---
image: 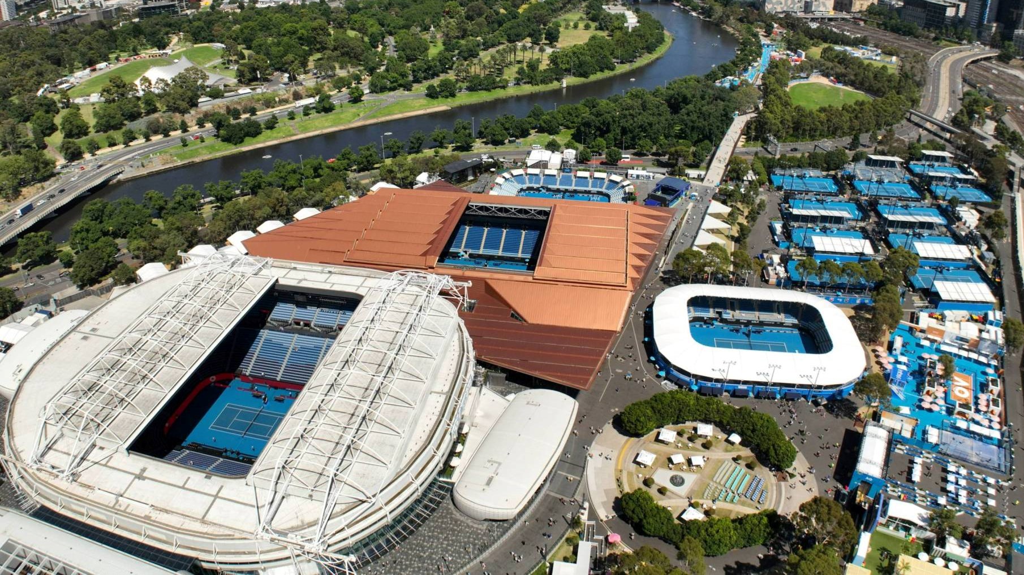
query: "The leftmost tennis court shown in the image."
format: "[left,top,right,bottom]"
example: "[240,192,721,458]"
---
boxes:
[167,382,308,459]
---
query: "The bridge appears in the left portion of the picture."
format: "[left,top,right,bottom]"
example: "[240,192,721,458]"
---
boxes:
[0,154,149,229]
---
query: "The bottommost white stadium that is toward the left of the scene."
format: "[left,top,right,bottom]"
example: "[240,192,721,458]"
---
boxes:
[0,249,481,575]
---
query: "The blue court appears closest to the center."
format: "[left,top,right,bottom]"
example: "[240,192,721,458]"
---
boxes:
[443,257,535,272]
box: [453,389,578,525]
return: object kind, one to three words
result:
building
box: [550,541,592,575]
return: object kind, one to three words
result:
building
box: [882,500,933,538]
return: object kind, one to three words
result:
tent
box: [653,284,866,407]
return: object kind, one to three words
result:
stadium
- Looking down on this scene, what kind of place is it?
sports ground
